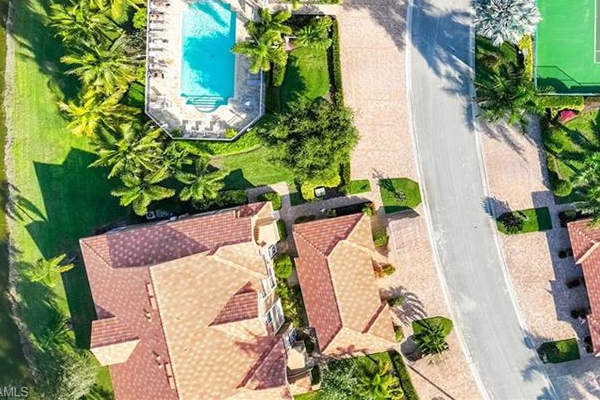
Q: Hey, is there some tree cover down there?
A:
Yes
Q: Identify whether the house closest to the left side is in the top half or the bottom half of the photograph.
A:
bottom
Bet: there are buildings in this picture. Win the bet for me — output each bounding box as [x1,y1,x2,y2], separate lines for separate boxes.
[78,196,317,400]
[567,218,600,356]
[290,213,399,356]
